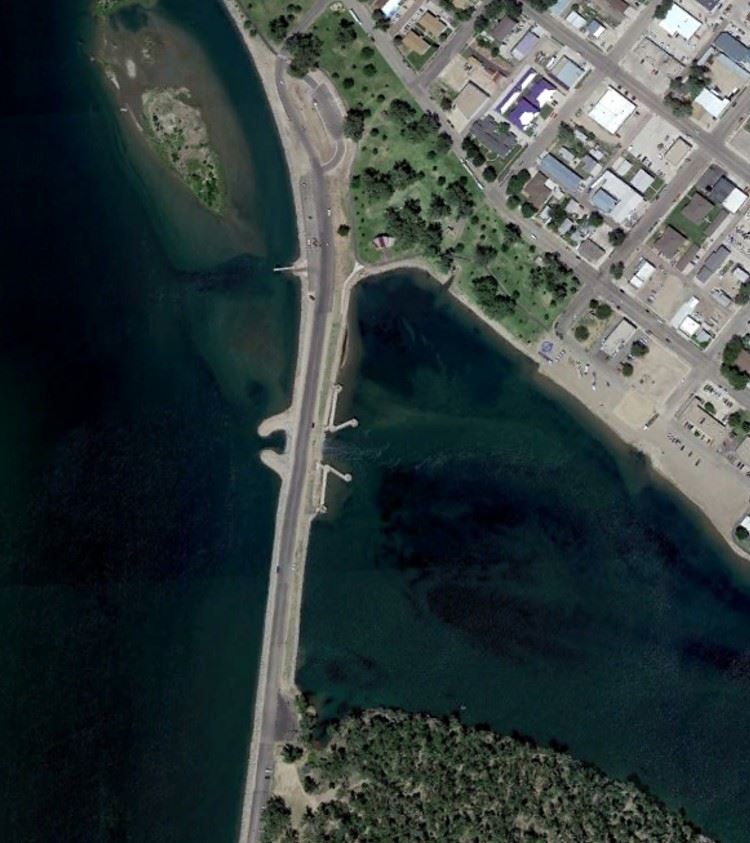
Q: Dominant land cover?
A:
water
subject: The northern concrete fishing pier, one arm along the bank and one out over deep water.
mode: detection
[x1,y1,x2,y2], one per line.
[324,384,357,432]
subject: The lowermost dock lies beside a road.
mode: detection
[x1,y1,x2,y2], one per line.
[315,463,352,512]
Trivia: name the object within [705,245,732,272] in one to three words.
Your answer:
building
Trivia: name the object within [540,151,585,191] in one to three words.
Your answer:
building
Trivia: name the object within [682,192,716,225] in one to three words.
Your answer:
house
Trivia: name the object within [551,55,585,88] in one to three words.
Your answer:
shed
